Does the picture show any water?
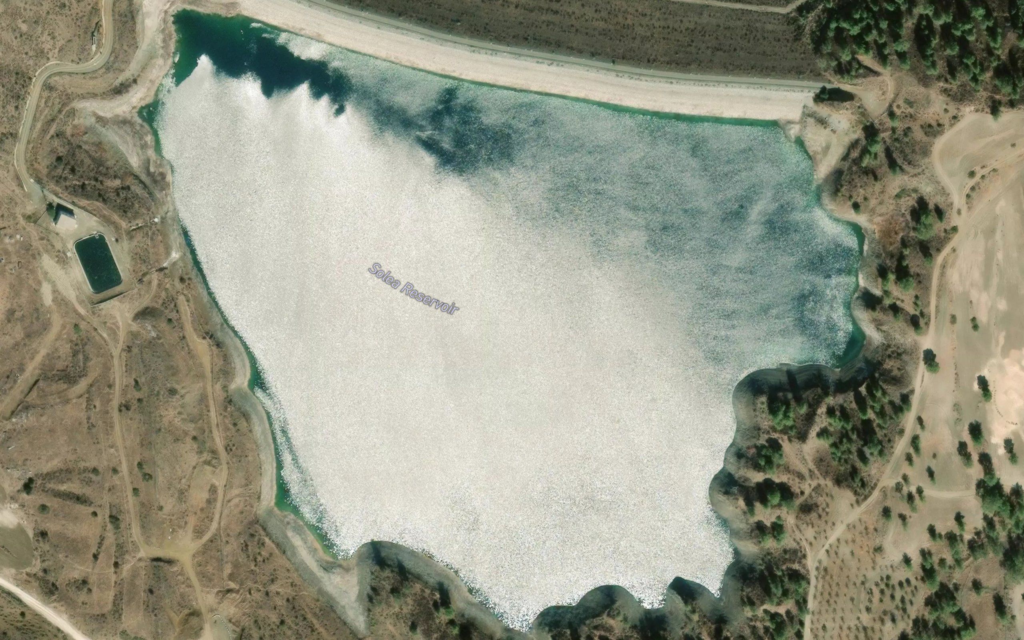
Yes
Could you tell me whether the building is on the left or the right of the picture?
left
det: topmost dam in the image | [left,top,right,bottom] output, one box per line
[226,0,826,141]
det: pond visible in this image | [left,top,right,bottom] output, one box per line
[73,232,123,294]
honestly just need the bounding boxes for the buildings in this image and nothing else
[55,210,78,231]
